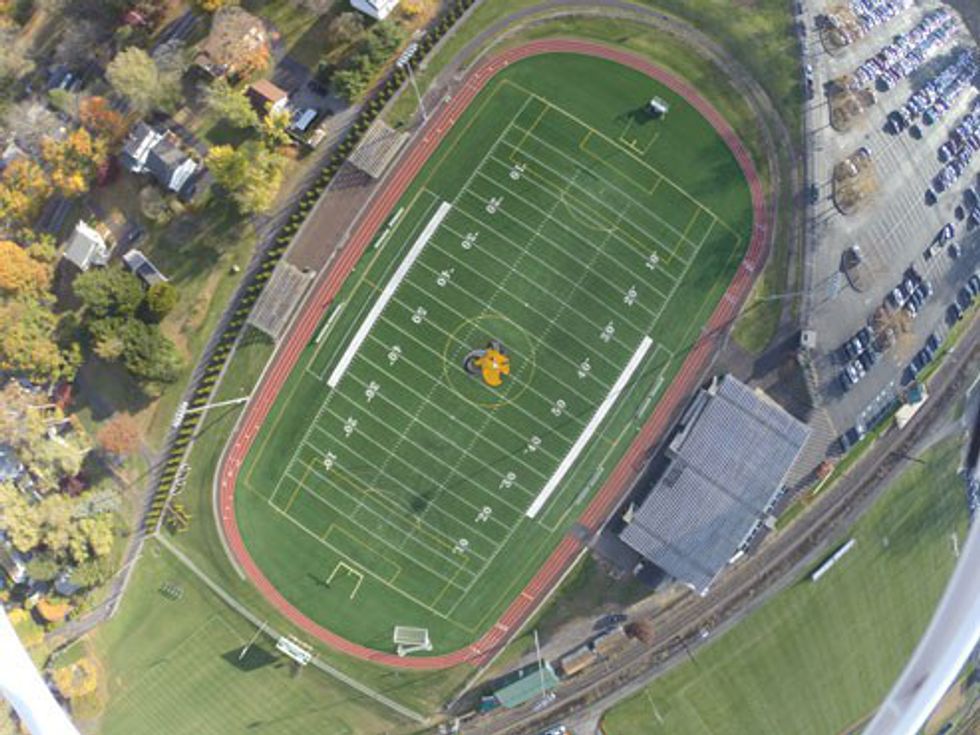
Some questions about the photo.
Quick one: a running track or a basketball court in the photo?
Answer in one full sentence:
It is a running track that can be seen here.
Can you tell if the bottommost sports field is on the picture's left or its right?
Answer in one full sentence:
The bottommost sports field sits on the left side.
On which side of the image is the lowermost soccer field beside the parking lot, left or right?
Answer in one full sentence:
The lowermost soccer field beside the parking lot appears in the right half of the scene.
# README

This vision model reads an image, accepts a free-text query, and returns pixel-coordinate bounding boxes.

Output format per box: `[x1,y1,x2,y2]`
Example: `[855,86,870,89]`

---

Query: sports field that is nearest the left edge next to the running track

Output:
[98,617,334,735]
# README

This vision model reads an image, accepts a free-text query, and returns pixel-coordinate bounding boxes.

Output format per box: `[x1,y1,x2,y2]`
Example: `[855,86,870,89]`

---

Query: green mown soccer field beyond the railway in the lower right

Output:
[653,481,980,735]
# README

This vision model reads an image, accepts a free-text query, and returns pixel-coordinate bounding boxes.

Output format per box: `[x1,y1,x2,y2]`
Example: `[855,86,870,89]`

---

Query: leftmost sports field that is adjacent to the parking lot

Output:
[234,52,752,657]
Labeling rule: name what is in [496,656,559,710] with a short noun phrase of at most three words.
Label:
building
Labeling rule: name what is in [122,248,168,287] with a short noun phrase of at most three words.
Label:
shed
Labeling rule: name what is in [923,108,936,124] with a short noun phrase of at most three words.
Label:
vehicle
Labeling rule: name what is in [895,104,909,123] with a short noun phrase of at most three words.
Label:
car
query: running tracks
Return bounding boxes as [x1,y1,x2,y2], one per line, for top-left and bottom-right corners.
[220,36,768,670]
